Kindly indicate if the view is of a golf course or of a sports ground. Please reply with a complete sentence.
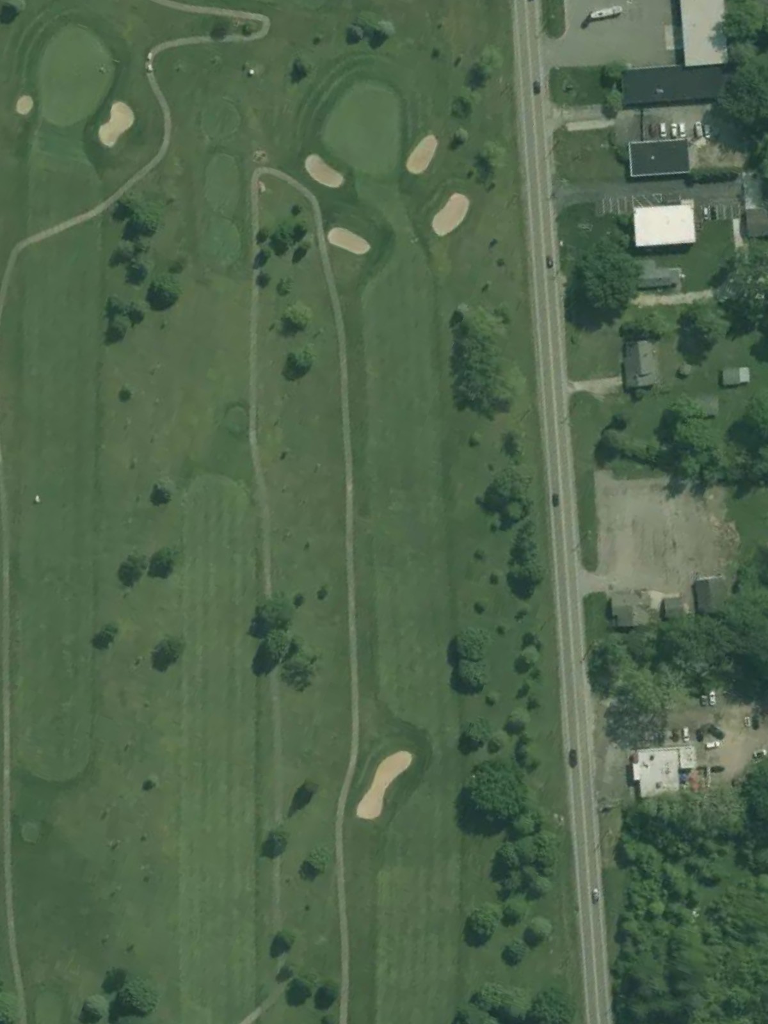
What you see here is a golf course.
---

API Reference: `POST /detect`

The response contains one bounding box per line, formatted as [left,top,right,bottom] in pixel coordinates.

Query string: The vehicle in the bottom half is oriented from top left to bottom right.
[708,725,725,738]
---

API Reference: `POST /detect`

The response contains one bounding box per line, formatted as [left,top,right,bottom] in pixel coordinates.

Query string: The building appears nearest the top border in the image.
[682,0,727,66]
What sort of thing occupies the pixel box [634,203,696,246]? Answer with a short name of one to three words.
building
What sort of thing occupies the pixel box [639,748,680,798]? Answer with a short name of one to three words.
building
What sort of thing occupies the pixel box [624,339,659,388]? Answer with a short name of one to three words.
house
